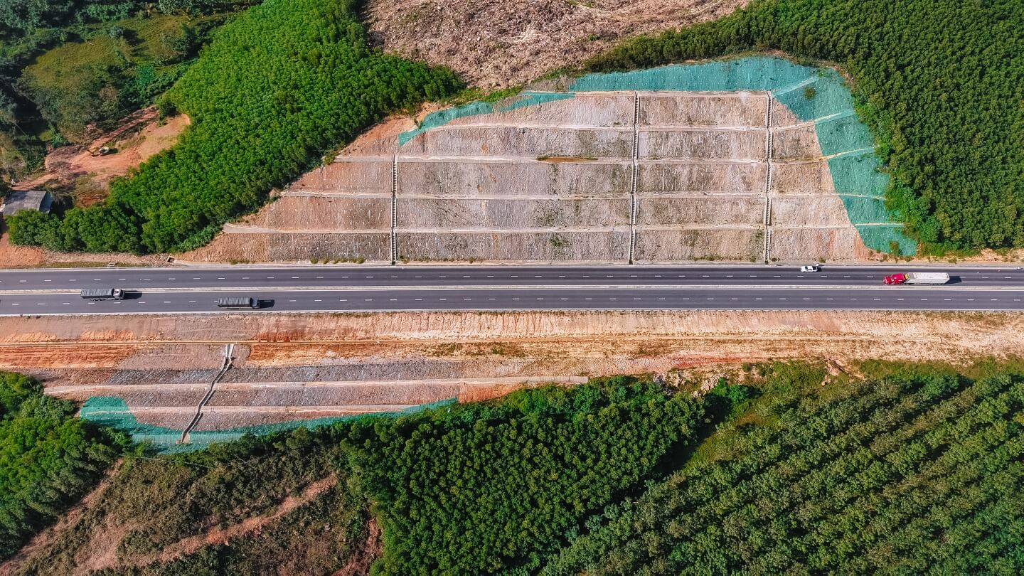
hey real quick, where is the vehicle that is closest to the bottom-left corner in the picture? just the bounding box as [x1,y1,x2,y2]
[73,287,125,300]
